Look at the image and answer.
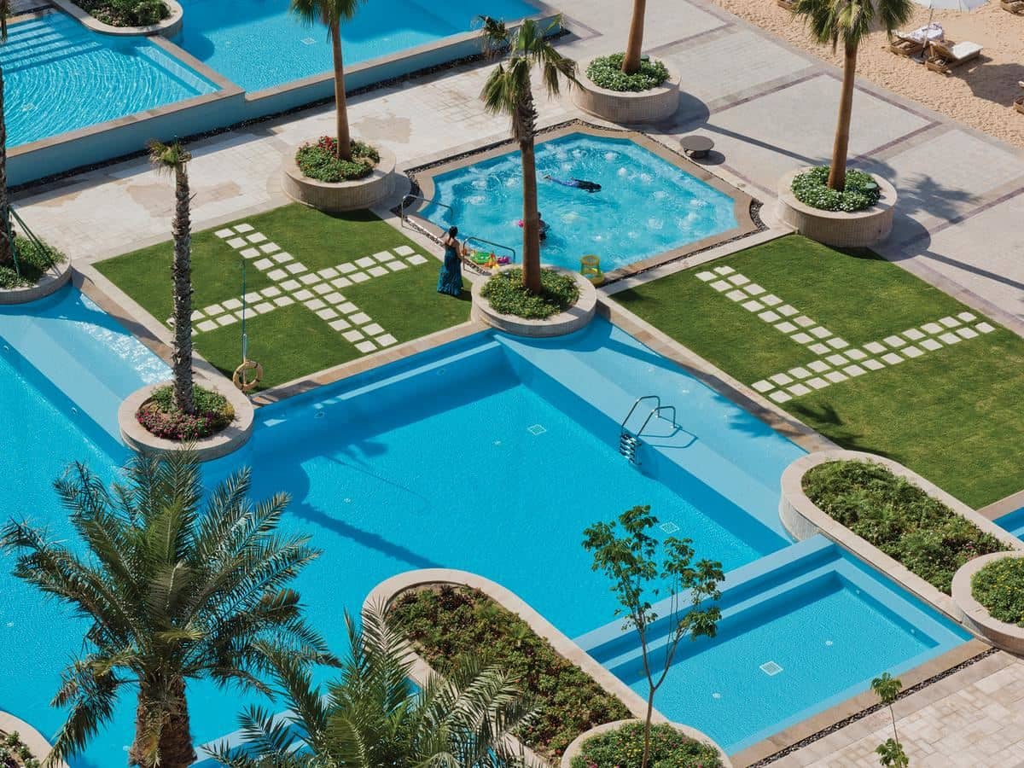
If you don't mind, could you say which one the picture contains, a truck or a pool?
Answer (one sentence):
There is a pool in the scene.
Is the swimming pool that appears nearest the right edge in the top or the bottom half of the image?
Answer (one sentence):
The bottom half of the photo is where the swimming pool that appears nearest the right edge is.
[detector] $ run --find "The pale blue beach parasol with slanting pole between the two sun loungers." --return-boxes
[905,0,1009,64]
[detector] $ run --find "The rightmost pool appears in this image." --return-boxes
[1002,518,1024,542]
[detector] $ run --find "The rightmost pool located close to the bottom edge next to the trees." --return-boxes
[600,548,967,756]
